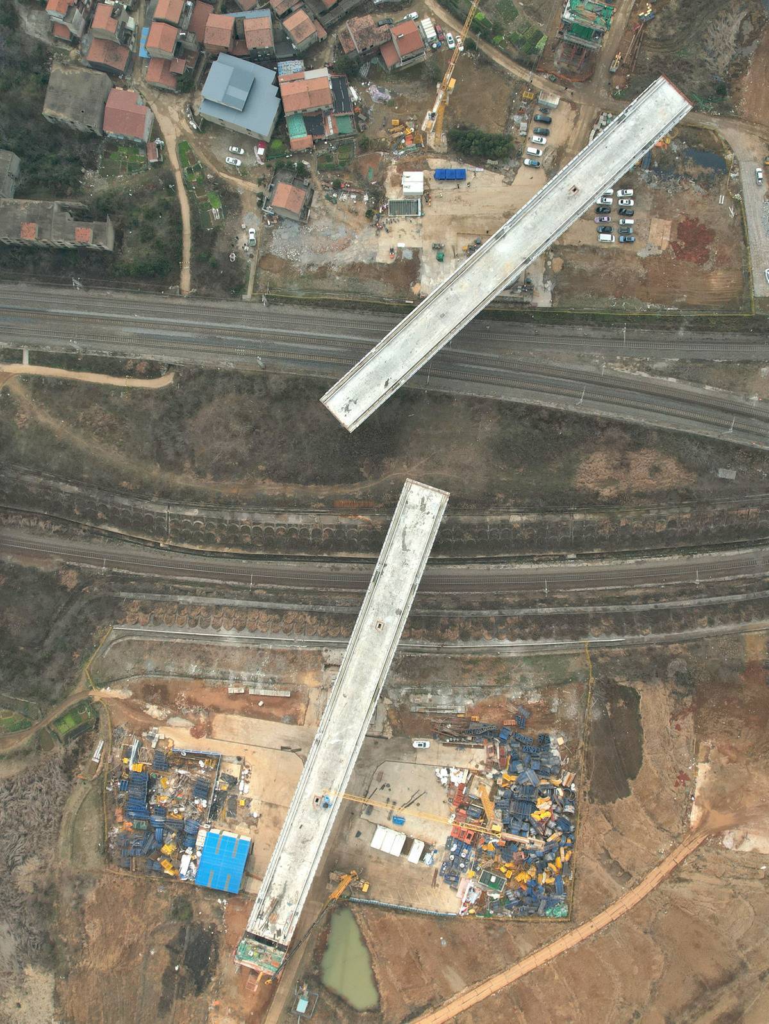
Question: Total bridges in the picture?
two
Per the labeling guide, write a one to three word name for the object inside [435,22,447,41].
vehicle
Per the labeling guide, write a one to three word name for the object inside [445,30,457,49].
vehicle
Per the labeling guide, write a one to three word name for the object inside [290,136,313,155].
shed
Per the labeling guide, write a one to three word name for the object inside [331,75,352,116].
house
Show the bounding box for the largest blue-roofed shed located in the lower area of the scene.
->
[195,823,253,893]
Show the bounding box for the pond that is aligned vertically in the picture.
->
[319,904,381,1012]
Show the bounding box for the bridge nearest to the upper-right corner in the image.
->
[321,75,693,431]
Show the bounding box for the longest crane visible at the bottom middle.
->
[324,774,543,849]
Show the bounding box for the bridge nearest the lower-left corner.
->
[247,478,449,946]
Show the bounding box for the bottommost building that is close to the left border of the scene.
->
[0,198,114,254]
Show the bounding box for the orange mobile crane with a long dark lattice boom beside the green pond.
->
[267,866,370,985]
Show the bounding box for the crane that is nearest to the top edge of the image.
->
[424,0,481,155]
